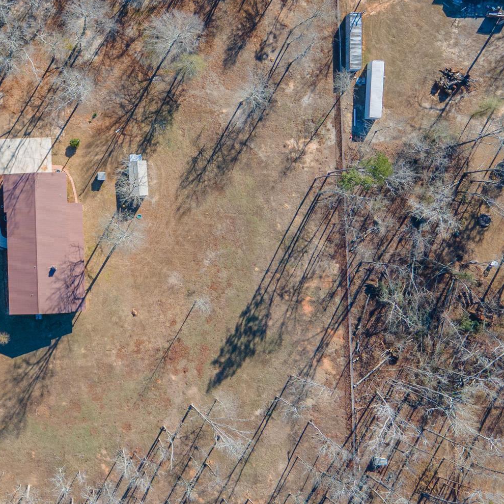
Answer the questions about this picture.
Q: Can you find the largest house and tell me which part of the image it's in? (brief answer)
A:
left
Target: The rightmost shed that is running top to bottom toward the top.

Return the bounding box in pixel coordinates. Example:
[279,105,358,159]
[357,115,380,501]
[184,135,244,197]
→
[128,155,149,197]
